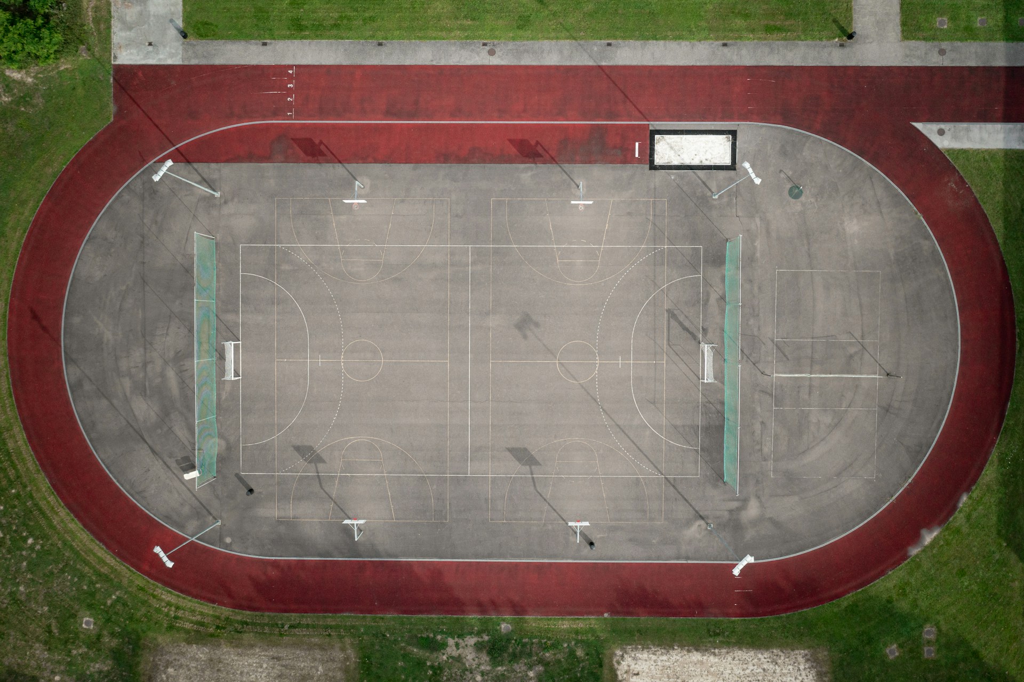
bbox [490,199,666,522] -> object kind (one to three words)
basketball court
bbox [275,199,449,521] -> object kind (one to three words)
basketball court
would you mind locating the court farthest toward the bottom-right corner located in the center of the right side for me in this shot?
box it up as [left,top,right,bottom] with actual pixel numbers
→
[771,269,881,479]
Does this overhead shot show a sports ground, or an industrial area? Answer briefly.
sports ground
